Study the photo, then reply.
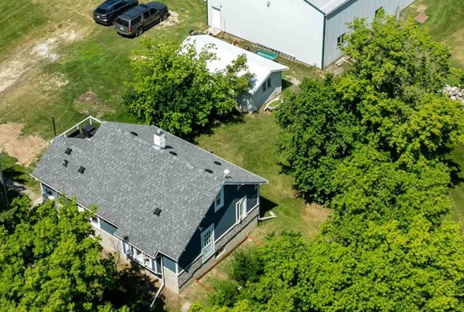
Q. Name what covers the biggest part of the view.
trees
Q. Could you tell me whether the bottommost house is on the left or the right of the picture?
left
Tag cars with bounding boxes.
[117,3,174,38]
[94,0,144,27]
